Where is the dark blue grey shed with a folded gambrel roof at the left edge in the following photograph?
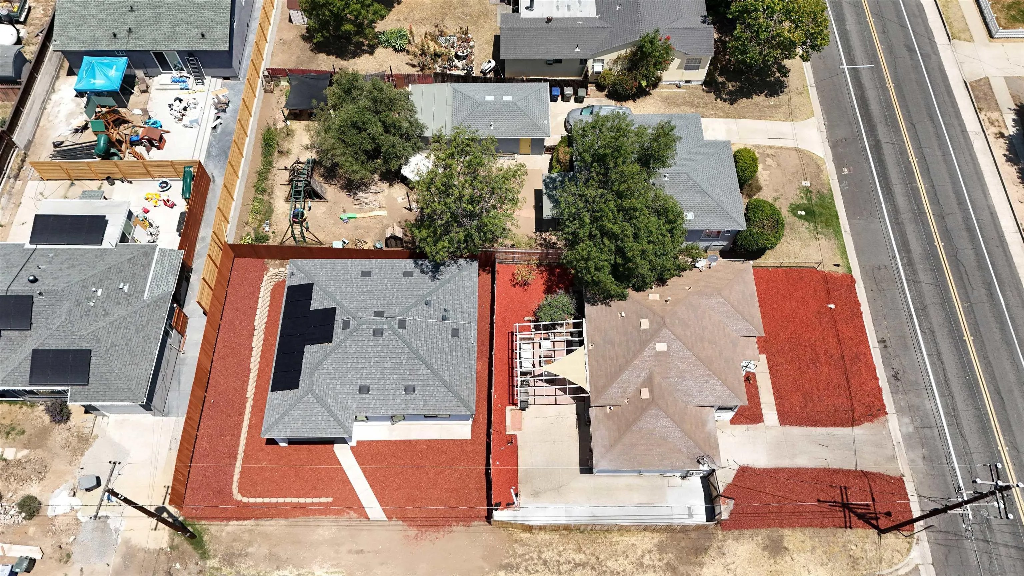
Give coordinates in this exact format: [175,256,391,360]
[0,45,37,93]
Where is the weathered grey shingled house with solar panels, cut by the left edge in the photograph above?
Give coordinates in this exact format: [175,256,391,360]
[0,244,198,416]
